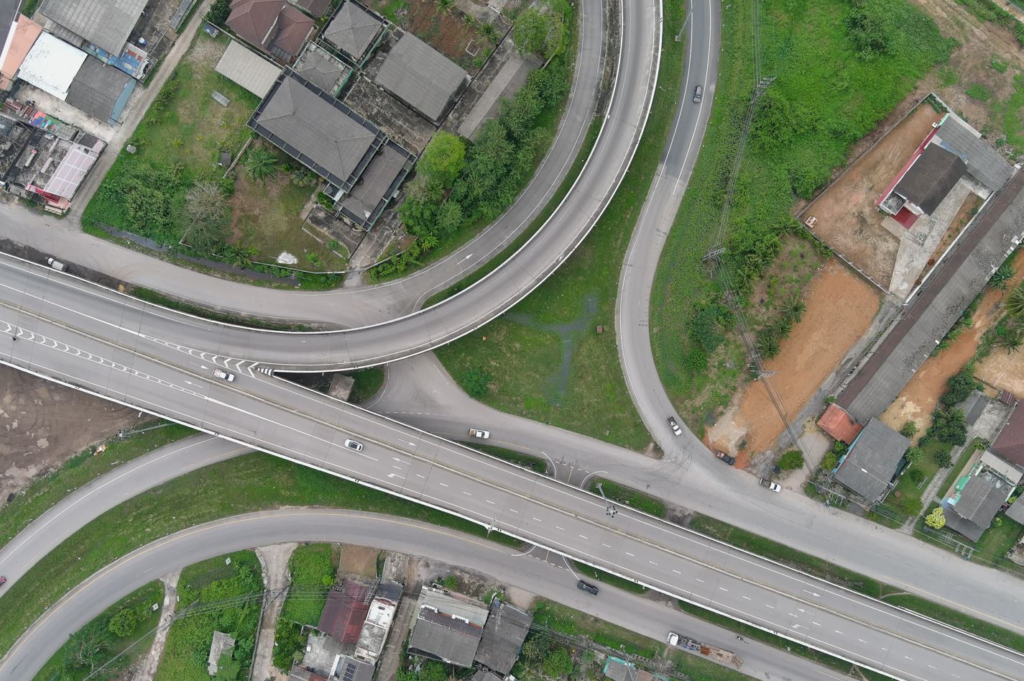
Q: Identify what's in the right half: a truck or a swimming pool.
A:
truck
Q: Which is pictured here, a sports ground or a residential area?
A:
residential area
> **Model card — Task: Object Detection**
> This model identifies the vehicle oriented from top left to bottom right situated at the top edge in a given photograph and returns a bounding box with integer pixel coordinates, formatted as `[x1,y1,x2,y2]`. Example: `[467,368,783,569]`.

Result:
[199,20,221,38]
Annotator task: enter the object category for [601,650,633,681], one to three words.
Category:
house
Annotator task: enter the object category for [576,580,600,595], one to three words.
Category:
vehicle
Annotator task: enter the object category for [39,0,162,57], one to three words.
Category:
building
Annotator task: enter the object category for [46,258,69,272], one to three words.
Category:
vehicle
